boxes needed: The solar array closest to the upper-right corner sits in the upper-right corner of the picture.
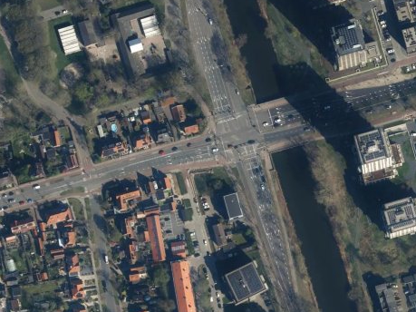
[338,26,359,48]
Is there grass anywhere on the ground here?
Yes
